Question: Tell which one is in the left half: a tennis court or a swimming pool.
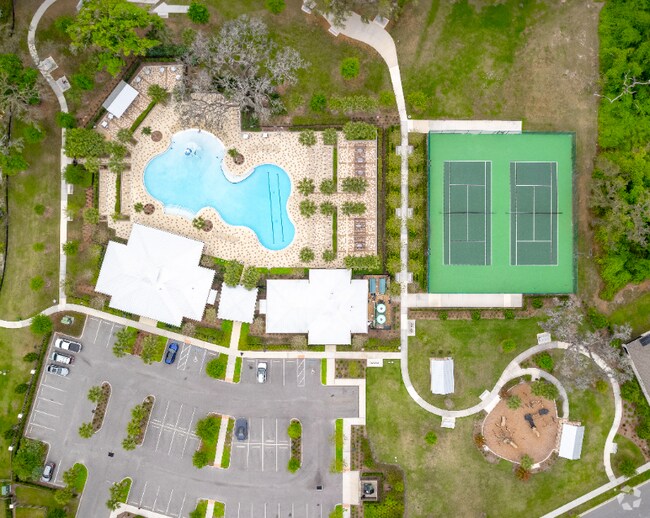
swimming pool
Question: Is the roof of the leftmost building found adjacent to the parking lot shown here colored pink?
No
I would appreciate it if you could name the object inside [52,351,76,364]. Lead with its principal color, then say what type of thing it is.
white vehicle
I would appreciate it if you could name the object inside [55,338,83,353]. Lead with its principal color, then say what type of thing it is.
white vehicle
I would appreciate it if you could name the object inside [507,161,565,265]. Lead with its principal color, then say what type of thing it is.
green tennis court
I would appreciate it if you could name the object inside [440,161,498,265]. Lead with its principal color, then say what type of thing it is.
green tennis court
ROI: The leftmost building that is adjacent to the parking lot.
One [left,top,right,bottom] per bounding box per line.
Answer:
[95,223,215,327]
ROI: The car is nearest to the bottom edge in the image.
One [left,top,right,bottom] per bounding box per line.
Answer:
[43,460,57,481]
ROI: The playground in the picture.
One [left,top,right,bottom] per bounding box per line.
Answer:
[482,382,559,465]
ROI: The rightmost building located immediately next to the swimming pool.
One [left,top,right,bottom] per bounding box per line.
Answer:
[267,269,368,345]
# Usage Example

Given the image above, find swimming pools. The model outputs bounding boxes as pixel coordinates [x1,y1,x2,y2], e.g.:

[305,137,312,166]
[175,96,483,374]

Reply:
[142,127,296,252]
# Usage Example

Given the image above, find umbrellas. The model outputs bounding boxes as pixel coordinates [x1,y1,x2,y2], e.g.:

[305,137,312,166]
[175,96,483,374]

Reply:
[376,303,386,313]
[376,315,386,324]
